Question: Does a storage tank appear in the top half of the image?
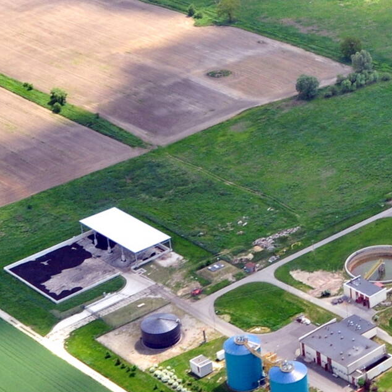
No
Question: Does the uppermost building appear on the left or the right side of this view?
right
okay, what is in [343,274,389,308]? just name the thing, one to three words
building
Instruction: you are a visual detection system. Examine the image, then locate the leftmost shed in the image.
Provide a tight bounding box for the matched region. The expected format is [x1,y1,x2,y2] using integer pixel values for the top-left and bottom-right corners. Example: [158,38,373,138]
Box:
[189,355,212,377]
